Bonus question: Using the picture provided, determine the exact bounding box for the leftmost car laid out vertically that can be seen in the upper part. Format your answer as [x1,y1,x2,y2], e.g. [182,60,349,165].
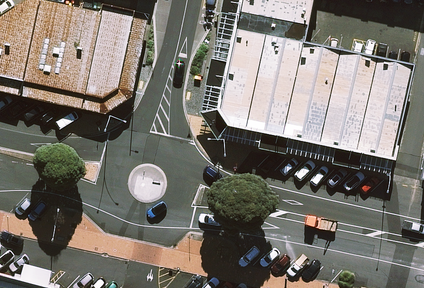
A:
[172,59,185,87]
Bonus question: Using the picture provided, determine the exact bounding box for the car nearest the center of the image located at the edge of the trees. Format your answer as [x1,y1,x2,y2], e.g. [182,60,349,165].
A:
[199,162,224,180]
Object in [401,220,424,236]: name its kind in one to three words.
vehicle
